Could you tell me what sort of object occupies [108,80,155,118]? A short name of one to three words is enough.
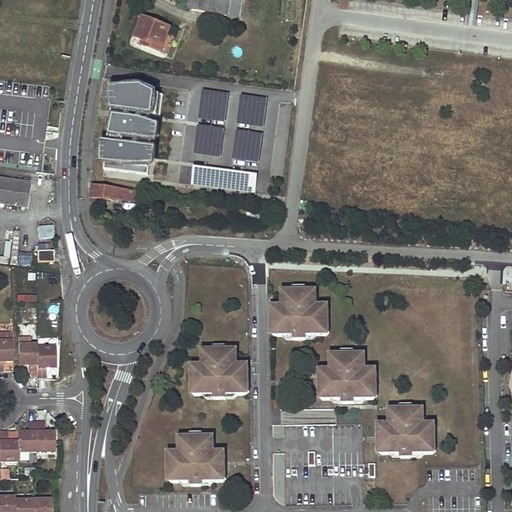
building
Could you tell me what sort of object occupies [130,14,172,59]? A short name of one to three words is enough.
house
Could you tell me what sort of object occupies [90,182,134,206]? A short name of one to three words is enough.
house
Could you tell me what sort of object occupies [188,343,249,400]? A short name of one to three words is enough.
building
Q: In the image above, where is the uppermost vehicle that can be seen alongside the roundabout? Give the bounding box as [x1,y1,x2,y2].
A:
[66,230,80,275]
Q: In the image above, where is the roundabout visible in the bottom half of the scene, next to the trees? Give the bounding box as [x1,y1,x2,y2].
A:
[66,259,170,363]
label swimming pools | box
[46,304,60,315]
[232,46,243,59]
